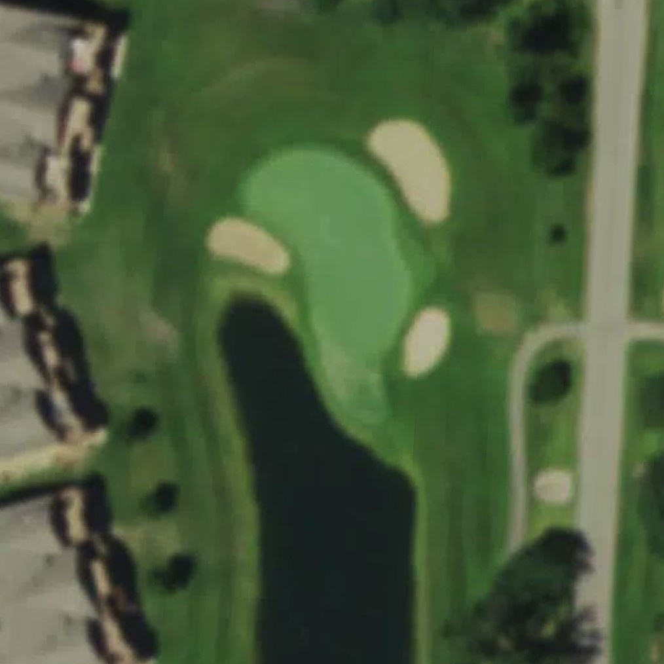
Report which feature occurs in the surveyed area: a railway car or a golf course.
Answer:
golf course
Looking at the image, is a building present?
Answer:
Yes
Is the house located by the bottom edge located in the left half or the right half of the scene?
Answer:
left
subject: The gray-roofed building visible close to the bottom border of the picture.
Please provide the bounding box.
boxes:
[0,485,132,664]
